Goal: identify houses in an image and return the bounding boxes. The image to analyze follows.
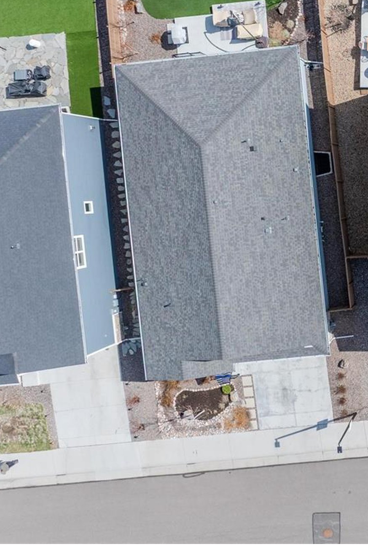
[0,103,135,386]
[113,45,354,381]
